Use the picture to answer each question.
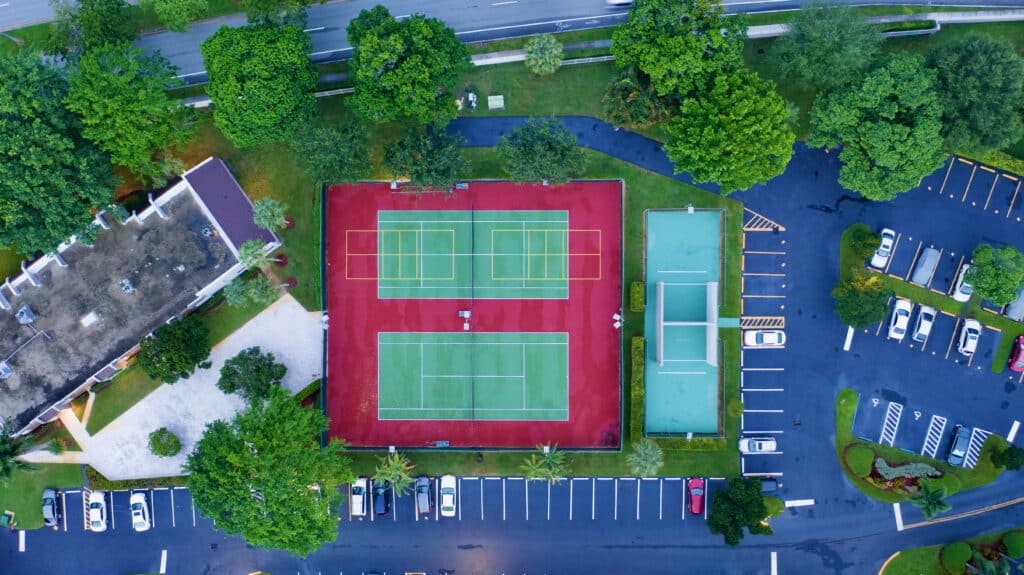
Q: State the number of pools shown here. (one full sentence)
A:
No pools are visible.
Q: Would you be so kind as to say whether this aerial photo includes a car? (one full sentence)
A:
Yes, there's a car here.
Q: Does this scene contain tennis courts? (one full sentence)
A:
Yes, a tennis court appears in the view.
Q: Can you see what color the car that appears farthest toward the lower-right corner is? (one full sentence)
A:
The car that appears farthest toward the lower-right corner is blue.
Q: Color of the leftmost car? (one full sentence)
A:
In this view, the leftmost car is blue.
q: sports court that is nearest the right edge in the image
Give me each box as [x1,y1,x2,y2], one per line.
[646,212,720,432]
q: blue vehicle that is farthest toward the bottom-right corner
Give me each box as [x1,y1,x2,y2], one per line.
[946,425,972,466]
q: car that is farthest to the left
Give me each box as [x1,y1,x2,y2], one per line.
[39,488,61,527]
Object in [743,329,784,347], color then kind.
white car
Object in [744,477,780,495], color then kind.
blue car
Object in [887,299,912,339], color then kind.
white car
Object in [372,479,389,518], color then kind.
blue car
